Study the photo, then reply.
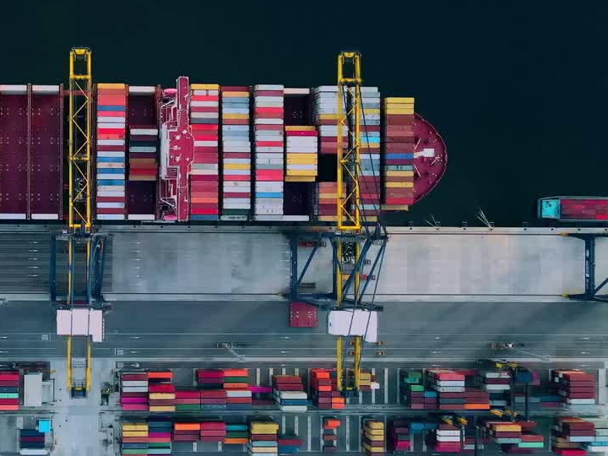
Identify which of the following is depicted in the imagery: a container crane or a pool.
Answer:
container crane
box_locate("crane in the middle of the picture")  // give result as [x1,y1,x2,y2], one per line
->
[271,51,398,391]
